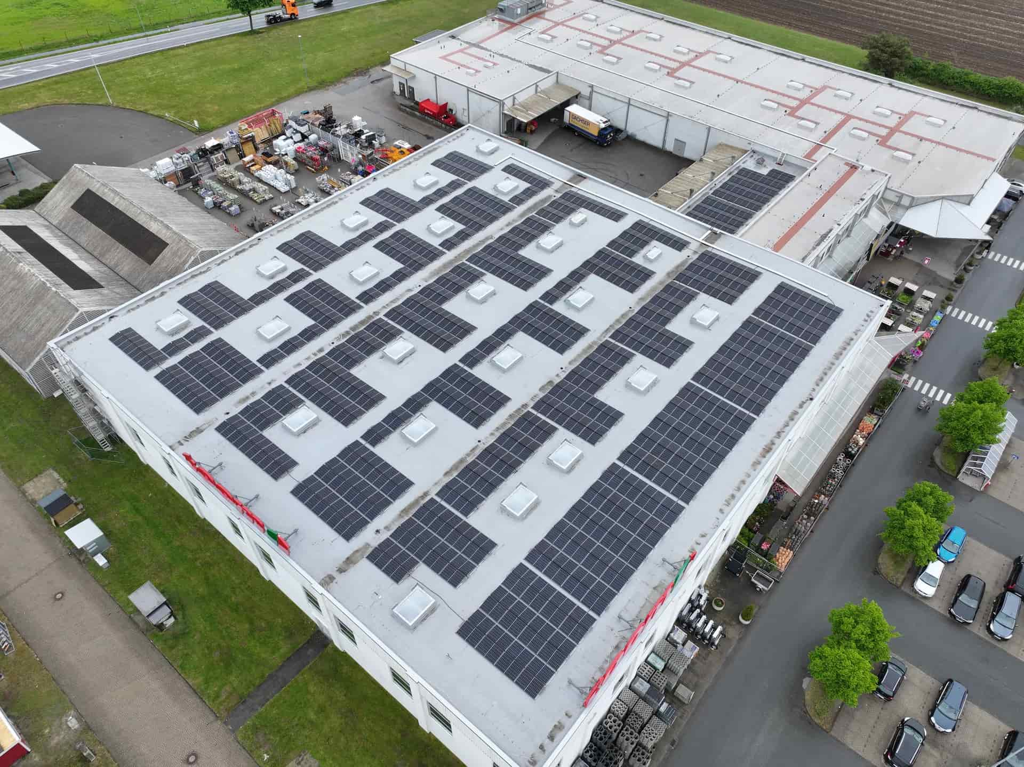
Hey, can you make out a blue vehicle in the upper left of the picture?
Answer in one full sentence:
No, no blue vehicle appears in the upper left of the picture.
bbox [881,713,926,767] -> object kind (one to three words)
car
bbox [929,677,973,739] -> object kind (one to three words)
car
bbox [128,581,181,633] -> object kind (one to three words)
shed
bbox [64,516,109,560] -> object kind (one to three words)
shed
